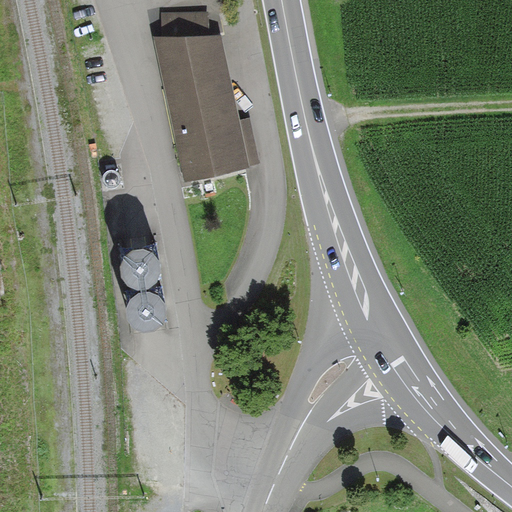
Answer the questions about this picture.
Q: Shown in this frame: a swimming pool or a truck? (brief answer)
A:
truck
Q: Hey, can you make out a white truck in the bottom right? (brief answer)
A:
Yes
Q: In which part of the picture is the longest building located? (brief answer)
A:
top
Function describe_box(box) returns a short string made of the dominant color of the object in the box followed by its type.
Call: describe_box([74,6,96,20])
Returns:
gray car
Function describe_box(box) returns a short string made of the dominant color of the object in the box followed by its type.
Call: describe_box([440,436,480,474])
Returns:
white truck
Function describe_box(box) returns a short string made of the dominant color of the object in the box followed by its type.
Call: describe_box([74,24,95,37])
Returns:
white vehicle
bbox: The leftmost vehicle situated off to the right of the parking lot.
[231,78,254,111]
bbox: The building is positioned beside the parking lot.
[152,11,258,182]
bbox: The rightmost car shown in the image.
[474,445,493,466]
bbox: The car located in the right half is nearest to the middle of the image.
[328,247,340,270]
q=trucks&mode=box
[440,436,480,474]
[231,78,254,111]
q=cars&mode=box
[474,445,493,466]
[74,24,95,37]
[312,98,324,123]
[84,57,104,68]
[328,247,340,270]
[375,350,390,374]
[74,6,96,20]
[268,8,280,32]
[86,73,106,84]
[290,114,302,138]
